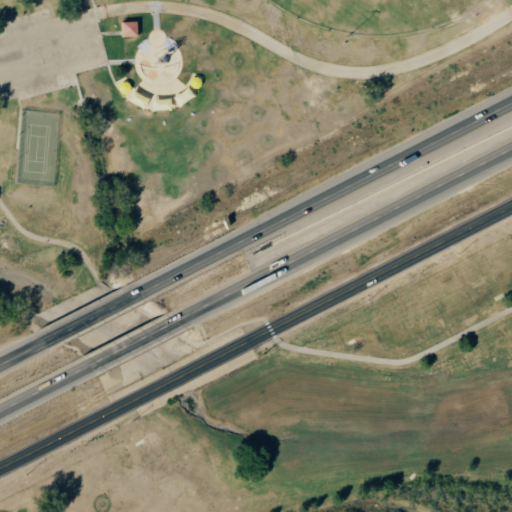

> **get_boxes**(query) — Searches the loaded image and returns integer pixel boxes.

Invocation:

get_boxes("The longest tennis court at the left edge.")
[17,110,60,186]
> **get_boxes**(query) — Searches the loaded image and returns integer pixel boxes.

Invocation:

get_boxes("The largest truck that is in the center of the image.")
[241,270,286,296]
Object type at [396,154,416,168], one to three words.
vehicle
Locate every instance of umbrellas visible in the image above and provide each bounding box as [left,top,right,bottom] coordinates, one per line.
[191,78,202,89]
[120,82,132,93]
